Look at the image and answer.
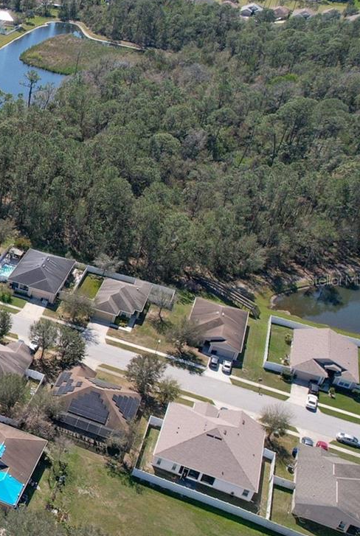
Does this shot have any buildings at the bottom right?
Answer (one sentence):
Yes, you'll find a building at the bottom right.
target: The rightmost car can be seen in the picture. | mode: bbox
[338,432,360,447]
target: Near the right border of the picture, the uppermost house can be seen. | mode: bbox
[291,329,360,398]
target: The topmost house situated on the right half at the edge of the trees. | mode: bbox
[185,297,248,360]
